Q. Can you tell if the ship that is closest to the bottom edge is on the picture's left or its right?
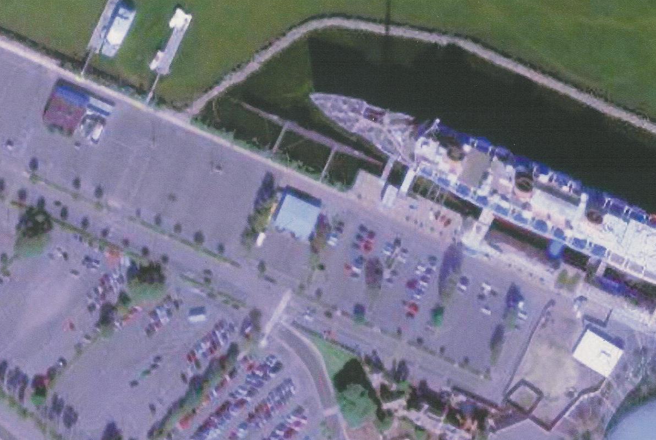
right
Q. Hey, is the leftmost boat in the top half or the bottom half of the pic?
top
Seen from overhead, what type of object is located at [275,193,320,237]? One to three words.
building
